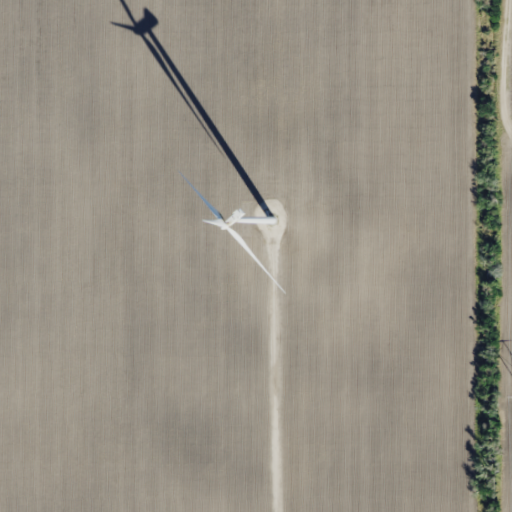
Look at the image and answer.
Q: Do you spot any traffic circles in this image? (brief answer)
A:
No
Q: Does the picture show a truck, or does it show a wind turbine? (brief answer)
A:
wind turbine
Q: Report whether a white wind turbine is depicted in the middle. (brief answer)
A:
Yes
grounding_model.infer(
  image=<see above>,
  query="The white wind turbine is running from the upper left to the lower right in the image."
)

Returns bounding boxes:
[176,170,285,291]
